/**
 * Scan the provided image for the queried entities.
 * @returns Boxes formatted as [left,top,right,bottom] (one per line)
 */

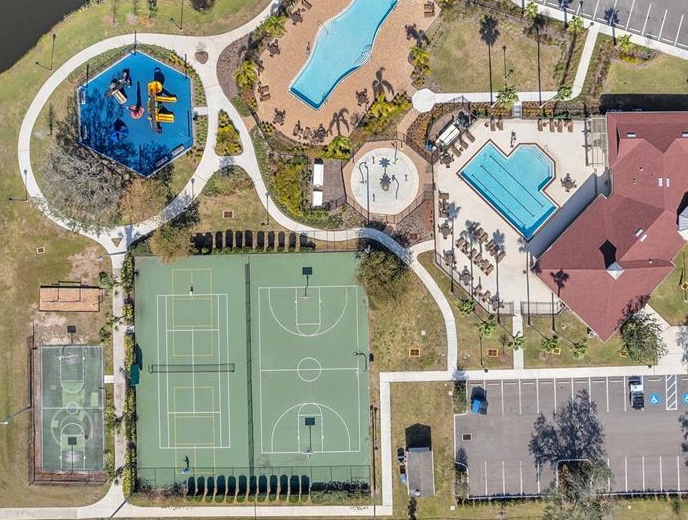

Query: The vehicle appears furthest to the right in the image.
[628,382,645,412]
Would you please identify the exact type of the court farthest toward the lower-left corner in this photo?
basketball court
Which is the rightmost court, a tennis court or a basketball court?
basketball court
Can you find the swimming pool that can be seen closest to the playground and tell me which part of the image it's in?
top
